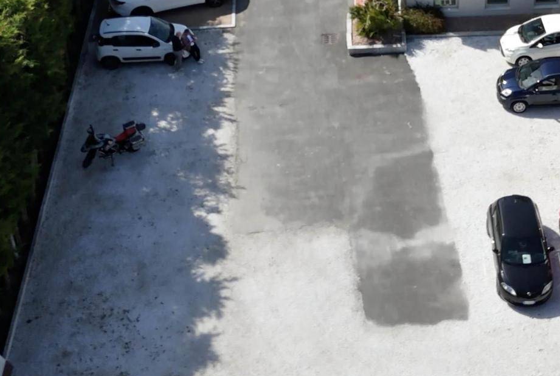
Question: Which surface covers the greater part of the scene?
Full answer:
The bulk of the photo consists of paved ground.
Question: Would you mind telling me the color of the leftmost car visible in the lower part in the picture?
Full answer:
From above, the leftmost car visible in the lower part appears black.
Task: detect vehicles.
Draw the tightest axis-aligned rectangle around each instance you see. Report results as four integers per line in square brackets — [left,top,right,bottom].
[484,195,554,307]
[497,11,560,66]
[497,56,560,113]
[89,13,190,70]
[75,115,141,162]
[113,0,224,15]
